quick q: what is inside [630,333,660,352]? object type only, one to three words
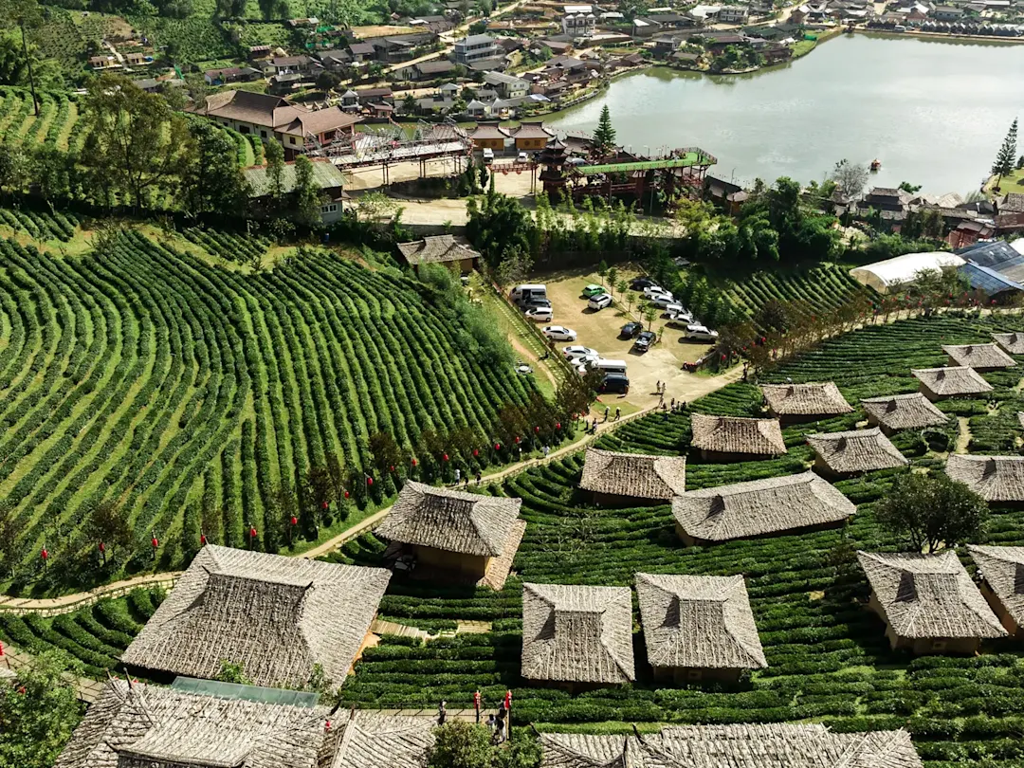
vehicle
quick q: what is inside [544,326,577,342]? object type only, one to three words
car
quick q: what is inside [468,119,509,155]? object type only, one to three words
building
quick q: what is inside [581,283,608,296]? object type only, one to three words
vehicle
